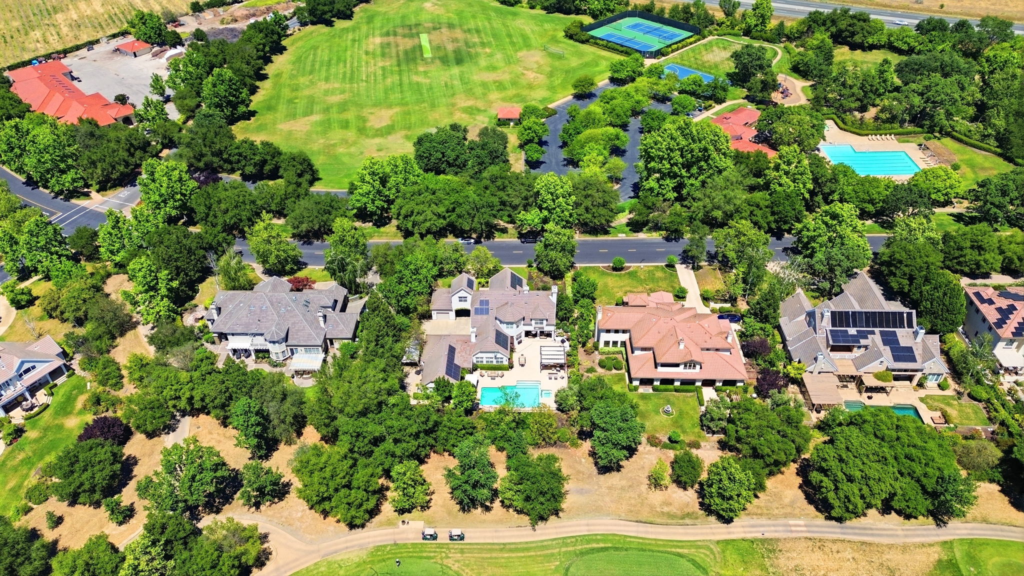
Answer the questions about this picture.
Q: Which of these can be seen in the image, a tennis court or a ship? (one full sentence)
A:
It is a tennis court that can be seen here.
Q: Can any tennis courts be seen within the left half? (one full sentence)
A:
No, the scene shows no tennis court within the left half.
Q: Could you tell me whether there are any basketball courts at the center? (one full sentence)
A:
No, no basketball court is visible at the center.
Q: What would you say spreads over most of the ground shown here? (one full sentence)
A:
Most of the picture is covered by trees.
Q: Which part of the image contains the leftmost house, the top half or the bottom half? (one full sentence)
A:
Seen from above, the leftmost house lies in the bottom half of the view.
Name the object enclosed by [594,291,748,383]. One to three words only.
house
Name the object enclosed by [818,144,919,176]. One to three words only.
swimming pool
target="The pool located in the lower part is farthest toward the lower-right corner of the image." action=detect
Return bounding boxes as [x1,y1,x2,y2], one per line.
[843,399,924,423]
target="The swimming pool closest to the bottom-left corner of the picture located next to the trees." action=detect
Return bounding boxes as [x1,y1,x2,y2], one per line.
[478,379,542,408]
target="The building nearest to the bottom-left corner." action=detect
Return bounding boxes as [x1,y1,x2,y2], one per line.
[0,334,69,420]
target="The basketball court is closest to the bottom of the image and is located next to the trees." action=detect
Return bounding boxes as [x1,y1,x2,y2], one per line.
[658,60,727,88]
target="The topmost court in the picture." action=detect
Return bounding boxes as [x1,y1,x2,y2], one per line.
[589,17,693,60]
